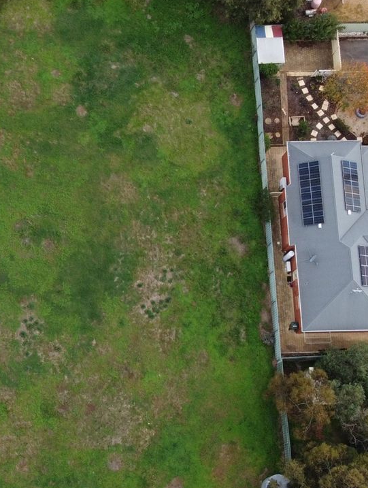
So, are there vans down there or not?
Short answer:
No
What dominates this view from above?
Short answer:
farmland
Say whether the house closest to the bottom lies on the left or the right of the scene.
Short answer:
right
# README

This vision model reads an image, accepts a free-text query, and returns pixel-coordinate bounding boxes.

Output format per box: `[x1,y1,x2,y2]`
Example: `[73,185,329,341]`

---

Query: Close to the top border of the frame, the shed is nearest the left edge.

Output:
[249,23,284,72]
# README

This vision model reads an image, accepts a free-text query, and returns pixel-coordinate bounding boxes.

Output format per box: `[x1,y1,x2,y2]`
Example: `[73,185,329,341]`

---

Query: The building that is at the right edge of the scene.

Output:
[277,139,368,336]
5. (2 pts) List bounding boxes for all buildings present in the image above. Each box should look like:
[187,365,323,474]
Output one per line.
[249,23,284,72]
[277,139,368,336]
